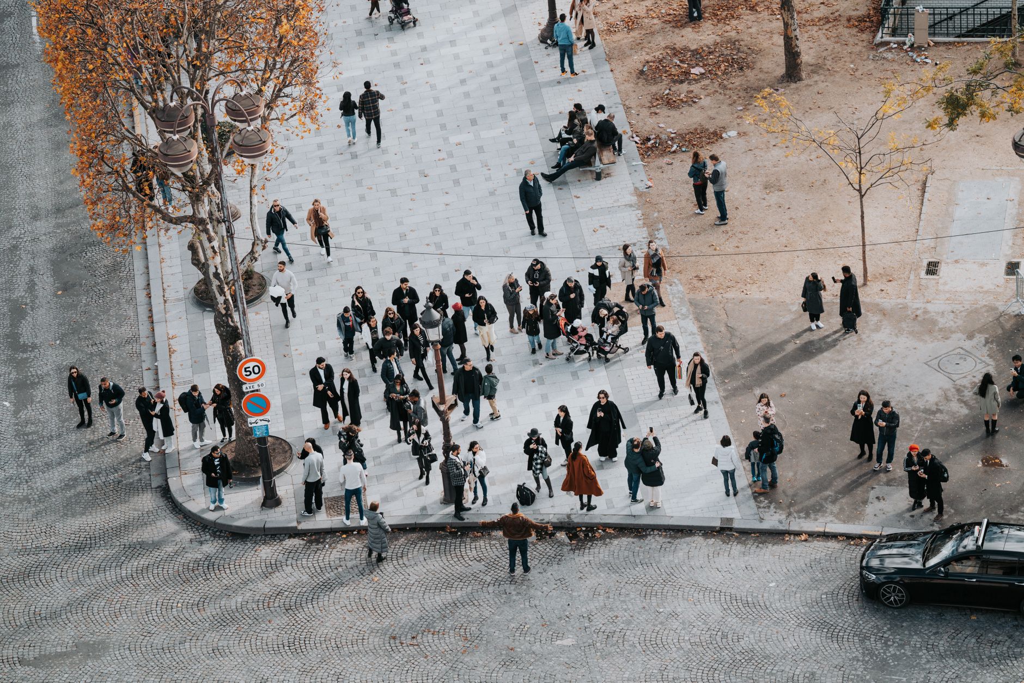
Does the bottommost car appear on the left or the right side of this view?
right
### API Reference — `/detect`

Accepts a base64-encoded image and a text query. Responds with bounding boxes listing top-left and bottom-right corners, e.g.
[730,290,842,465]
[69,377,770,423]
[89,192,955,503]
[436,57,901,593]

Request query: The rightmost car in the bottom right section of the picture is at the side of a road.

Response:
[856,510,1024,609]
